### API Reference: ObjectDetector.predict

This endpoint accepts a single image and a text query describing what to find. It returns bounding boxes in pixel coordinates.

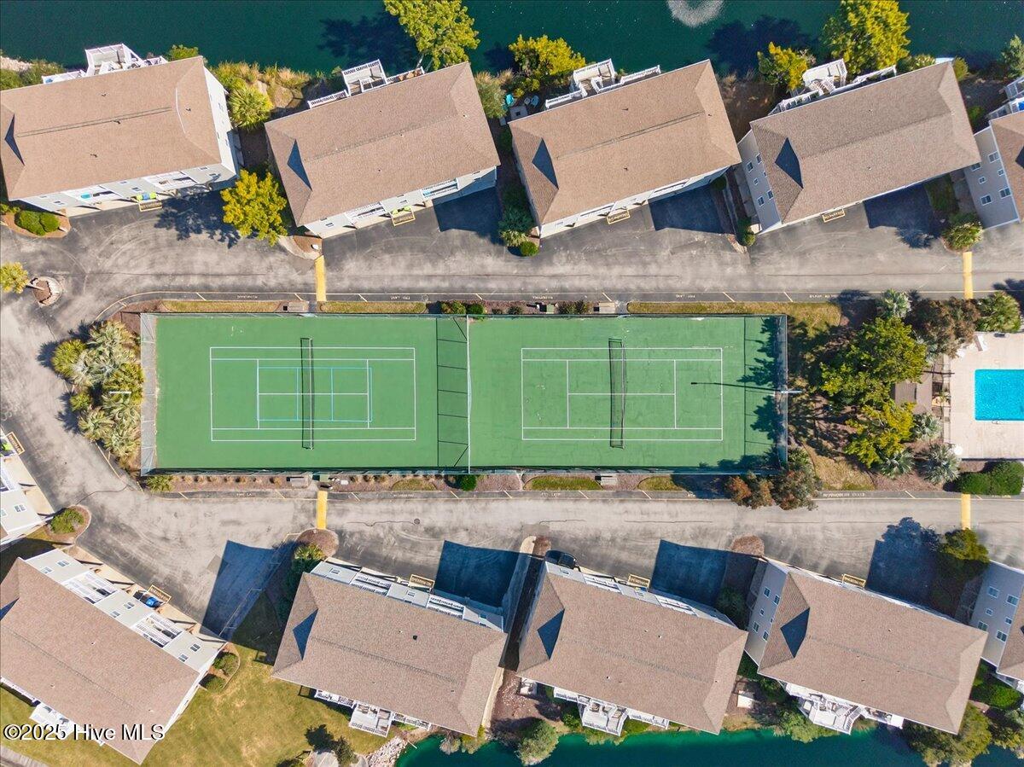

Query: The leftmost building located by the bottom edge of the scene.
[0,543,227,765]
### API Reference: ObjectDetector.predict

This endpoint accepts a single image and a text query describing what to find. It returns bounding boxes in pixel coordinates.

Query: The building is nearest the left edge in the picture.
[0,433,57,550]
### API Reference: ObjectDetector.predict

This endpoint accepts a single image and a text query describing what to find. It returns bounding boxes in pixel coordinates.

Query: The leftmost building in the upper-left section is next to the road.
[0,46,249,216]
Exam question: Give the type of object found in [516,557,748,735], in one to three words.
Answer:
building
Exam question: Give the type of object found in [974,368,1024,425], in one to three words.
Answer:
swimming pool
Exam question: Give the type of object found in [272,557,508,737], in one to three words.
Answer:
building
